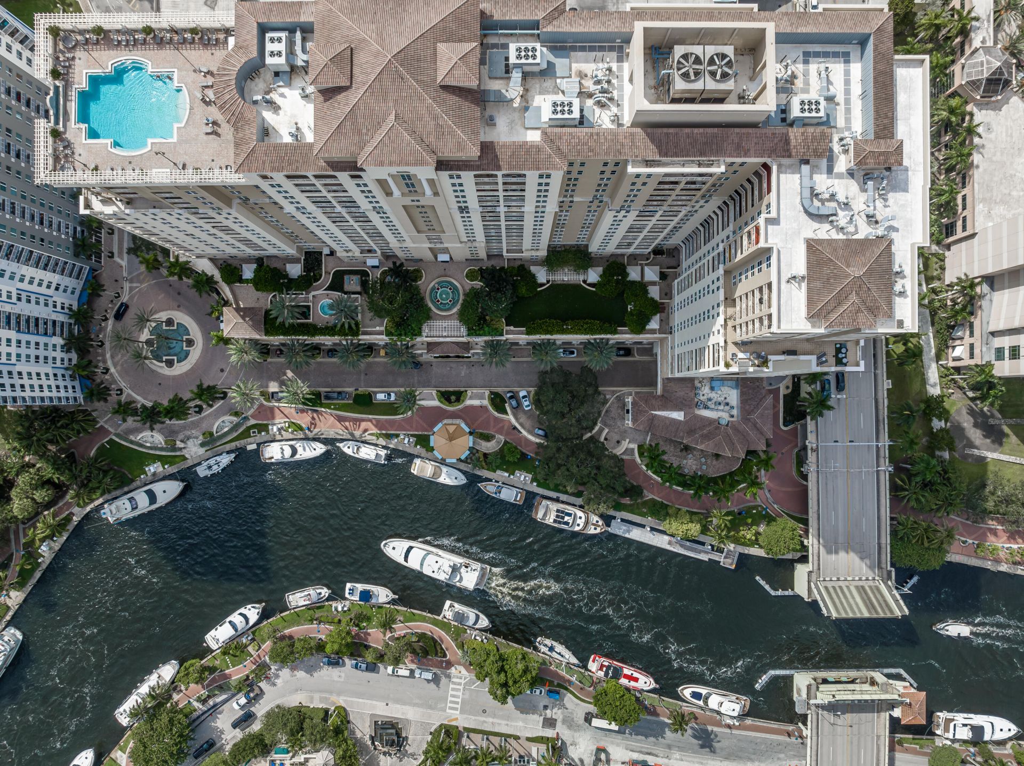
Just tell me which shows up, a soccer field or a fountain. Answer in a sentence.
There is a fountain in the scene.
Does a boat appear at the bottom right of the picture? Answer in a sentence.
Yes, a boat is visible at the bottom right of the picture.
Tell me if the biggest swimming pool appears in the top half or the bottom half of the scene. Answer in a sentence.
Seen from above, the biggest swimming pool lies in the top half of the view.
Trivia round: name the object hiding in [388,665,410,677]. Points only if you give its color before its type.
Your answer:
white vehicle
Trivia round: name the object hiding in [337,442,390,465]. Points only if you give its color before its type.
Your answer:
white boat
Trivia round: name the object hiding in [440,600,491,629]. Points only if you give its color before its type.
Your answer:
white boat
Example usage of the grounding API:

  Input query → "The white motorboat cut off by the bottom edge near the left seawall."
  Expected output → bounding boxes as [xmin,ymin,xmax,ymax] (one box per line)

[66,746,98,766]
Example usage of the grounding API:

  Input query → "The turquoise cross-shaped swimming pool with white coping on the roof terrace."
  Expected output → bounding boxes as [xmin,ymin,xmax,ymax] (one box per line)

[71,57,190,156]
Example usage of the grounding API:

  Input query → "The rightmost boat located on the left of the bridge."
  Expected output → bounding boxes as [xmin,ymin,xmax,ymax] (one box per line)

[677,683,752,718]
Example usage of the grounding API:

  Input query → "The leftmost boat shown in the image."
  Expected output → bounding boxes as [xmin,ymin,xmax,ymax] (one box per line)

[0,622,31,680]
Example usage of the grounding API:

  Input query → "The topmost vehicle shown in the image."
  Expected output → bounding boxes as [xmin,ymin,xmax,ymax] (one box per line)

[114,300,130,322]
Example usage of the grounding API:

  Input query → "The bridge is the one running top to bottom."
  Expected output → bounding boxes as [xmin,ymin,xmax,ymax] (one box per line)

[785,336,911,766]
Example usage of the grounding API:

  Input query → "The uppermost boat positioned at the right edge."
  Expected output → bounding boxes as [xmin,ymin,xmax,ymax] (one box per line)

[930,622,973,638]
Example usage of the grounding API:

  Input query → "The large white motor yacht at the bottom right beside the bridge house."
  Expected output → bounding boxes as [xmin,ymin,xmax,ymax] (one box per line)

[926,709,1024,743]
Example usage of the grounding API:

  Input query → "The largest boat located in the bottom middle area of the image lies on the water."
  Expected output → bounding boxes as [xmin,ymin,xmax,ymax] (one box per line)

[379,542,497,595]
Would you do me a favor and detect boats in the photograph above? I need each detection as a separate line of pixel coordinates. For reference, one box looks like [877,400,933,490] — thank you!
[677,683,752,718]
[203,603,266,650]
[337,442,390,465]
[198,453,239,477]
[409,457,467,486]
[260,439,328,463]
[346,581,398,603]
[478,482,528,505]
[535,636,581,677]
[585,653,659,690]
[930,622,973,638]
[379,542,497,595]
[104,481,187,528]
[0,622,31,680]
[926,709,1024,743]
[114,661,181,727]
[440,600,491,629]
[66,746,98,766]
[287,585,330,609]
[528,498,608,535]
